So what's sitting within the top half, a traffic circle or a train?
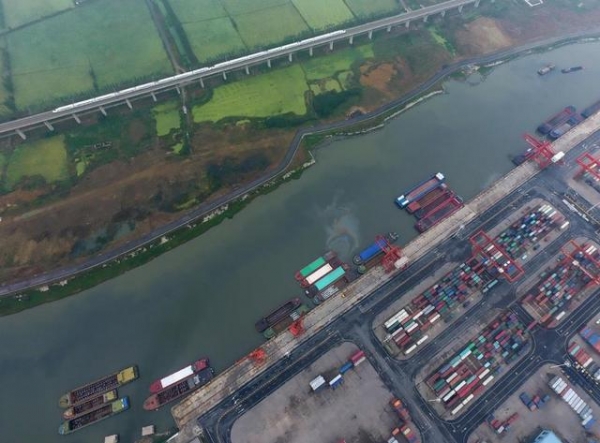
train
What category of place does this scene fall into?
port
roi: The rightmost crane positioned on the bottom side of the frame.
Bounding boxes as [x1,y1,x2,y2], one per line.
[554,239,600,296]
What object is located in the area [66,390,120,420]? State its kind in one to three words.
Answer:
ship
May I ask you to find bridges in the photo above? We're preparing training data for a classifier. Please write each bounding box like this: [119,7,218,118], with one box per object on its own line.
[0,0,496,139]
